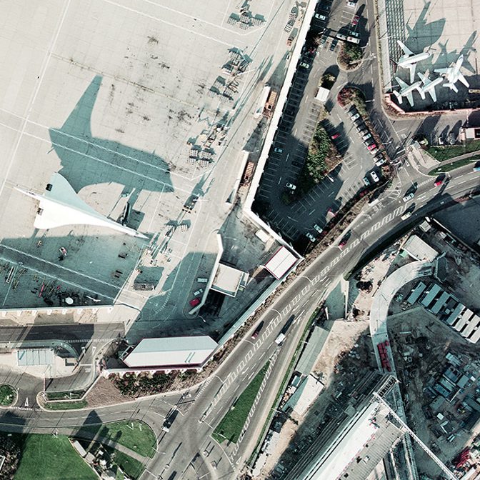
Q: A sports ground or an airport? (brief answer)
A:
airport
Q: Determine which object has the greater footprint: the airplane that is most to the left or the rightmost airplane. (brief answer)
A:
the airplane that is most to the left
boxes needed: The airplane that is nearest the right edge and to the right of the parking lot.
[436,56,469,90]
